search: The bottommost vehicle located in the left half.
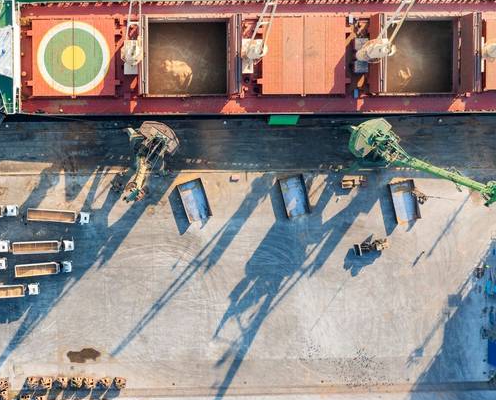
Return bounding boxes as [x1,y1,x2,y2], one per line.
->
[0,281,41,298]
